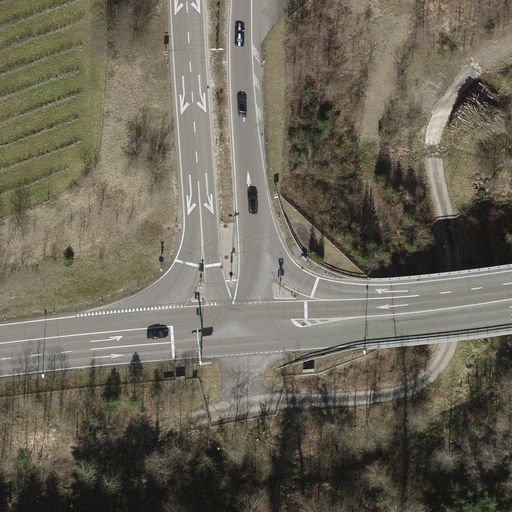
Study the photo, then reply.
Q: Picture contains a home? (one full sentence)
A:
No, the photo shows no home.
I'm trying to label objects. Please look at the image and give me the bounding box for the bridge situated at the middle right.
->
[372,264,512,349]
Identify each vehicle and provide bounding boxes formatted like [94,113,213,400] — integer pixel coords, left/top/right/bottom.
[234,25,245,47]
[147,327,168,338]
[248,191,258,214]
[236,96,248,118]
